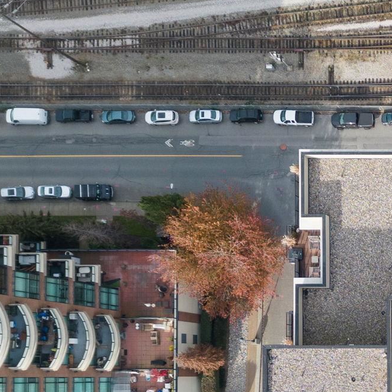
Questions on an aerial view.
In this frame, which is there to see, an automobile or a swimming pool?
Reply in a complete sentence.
Visible in the photo is an automobile.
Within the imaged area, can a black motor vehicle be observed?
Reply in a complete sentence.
Yes, the picture does show a black motor vehicle.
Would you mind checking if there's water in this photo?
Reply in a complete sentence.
No, water can't be seen anywhere here.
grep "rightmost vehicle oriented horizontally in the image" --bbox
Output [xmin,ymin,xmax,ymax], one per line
[331,111,373,129]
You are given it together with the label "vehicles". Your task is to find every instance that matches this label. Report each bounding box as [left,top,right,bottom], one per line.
[101,108,136,124]
[73,183,112,200]
[52,106,95,124]
[229,107,262,124]
[5,106,48,125]
[331,111,373,129]
[273,108,315,126]
[37,183,71,199]
[144,108,179,125]
[188,107,223,124]
[0,183,35,200]
[382,110,392,125]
